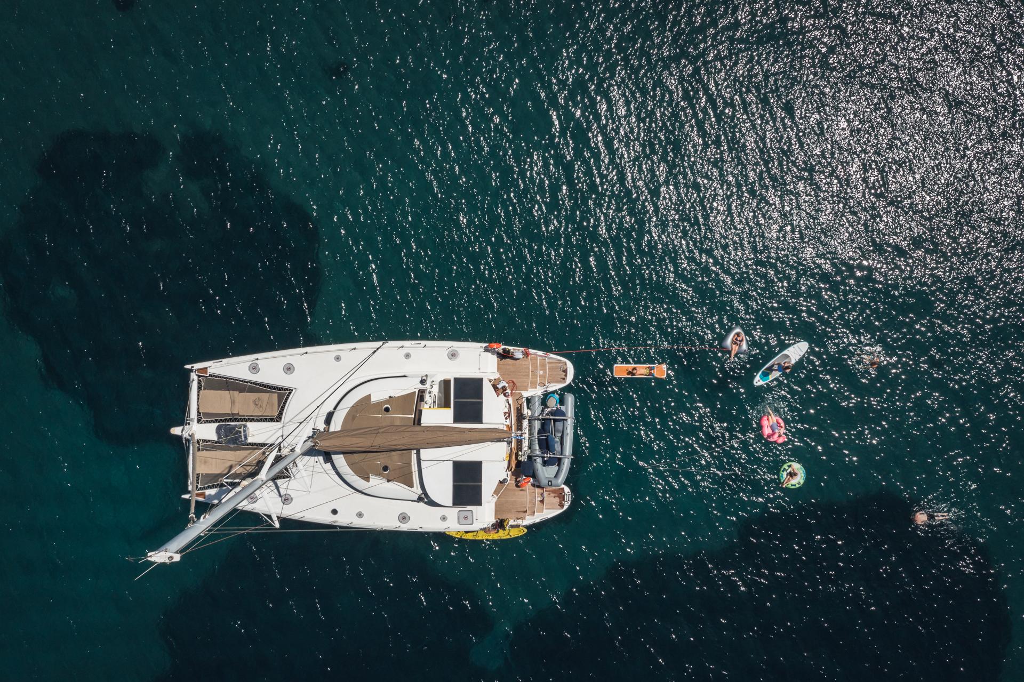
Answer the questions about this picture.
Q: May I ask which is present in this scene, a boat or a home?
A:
boat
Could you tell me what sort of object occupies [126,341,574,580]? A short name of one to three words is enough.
boat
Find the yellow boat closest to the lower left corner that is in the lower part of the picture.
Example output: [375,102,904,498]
[445,527,527,539]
